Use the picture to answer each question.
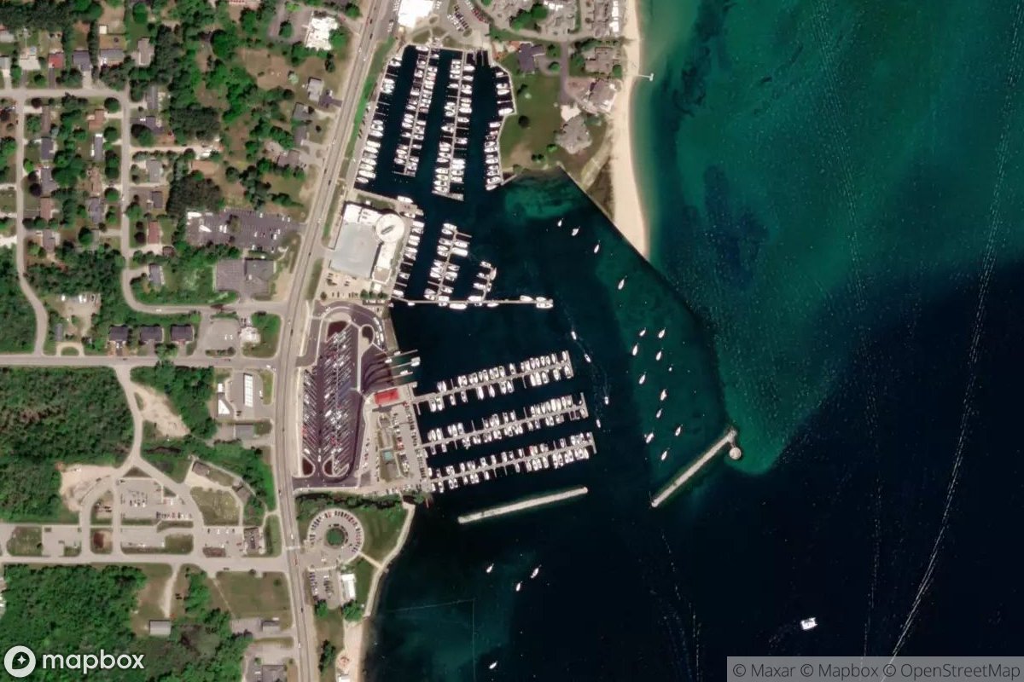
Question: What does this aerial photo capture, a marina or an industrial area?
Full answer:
This looks like a marina.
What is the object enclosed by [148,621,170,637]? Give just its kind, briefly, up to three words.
barn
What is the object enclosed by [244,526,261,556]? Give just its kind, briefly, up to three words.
building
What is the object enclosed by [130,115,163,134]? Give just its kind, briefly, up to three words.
house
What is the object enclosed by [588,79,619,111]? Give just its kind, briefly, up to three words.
house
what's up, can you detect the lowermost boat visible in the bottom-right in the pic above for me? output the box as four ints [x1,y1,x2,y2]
[800,618,818,631]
